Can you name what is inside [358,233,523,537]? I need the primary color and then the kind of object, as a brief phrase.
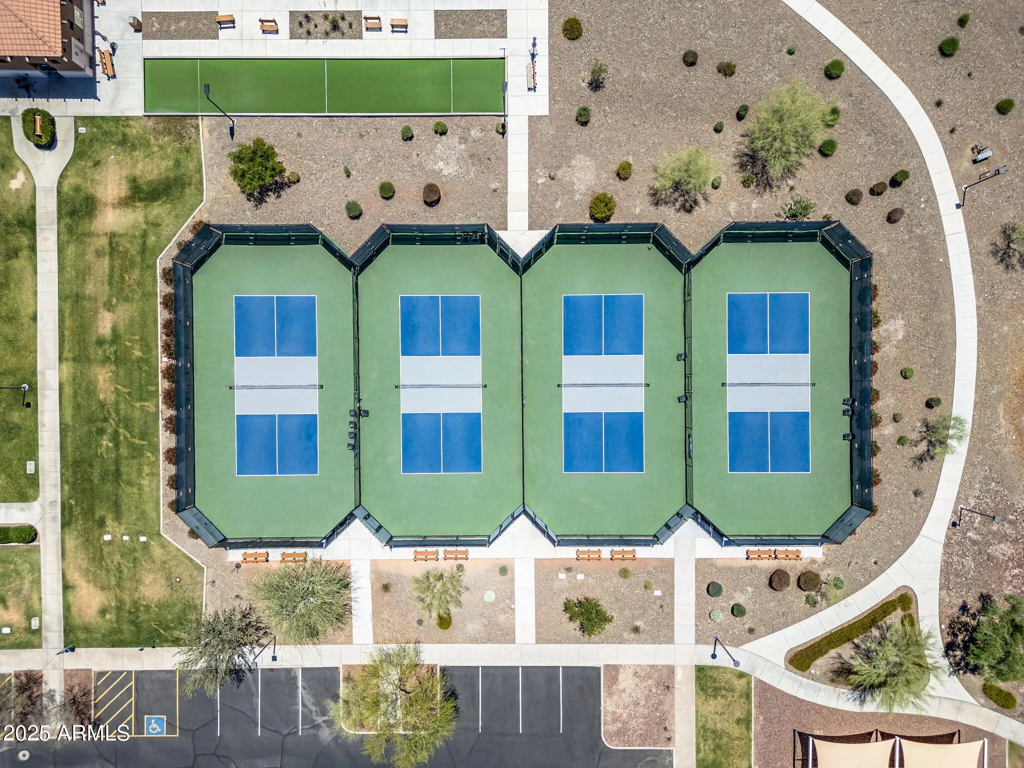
green sports court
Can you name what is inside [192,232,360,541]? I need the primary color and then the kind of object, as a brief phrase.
green sports court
